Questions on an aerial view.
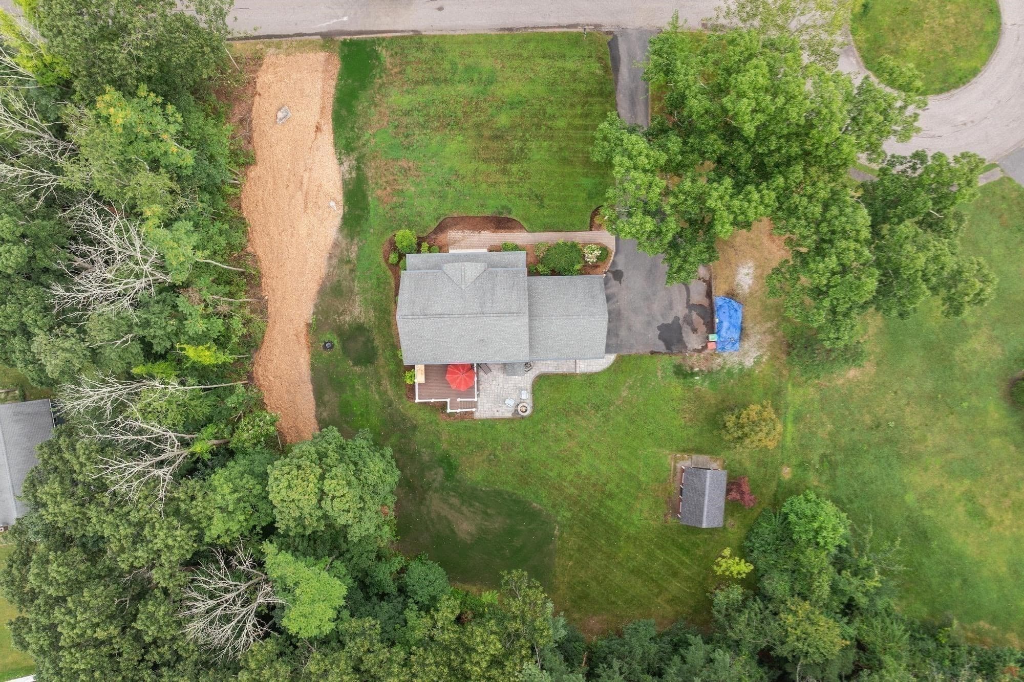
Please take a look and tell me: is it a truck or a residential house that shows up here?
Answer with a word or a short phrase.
residential house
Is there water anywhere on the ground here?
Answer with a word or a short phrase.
No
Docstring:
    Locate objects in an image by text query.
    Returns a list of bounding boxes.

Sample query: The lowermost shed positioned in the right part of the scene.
[674,462,727,529]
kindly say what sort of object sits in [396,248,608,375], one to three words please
house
